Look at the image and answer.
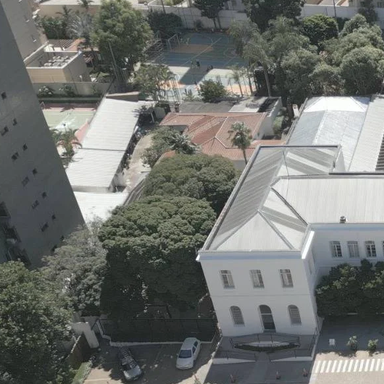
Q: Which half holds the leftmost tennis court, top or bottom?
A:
top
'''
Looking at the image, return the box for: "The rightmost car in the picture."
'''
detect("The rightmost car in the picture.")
[168,333,203,369]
